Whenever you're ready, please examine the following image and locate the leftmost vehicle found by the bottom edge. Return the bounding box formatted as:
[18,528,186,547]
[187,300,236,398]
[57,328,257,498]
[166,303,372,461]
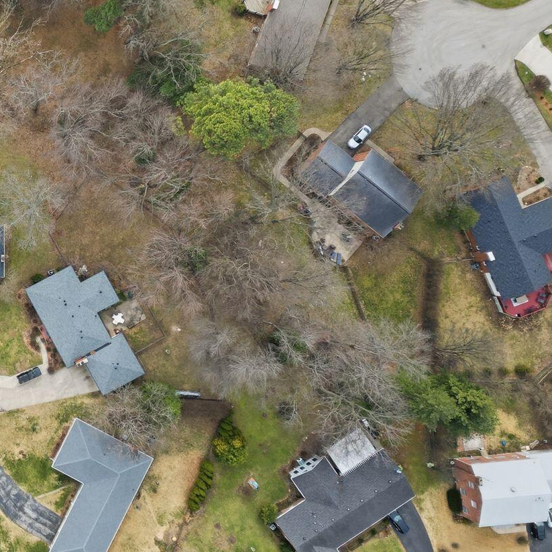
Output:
[388,510,412,537]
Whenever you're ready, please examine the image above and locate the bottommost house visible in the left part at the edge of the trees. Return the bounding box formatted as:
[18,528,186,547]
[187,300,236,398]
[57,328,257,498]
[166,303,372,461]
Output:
[50,418,155,552]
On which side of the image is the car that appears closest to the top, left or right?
right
